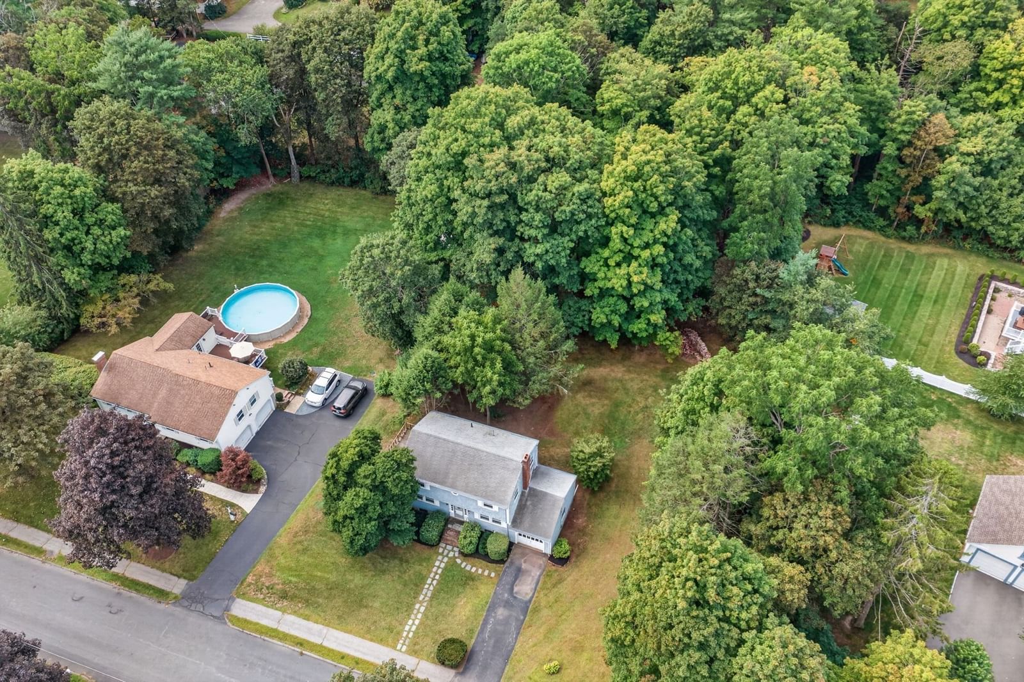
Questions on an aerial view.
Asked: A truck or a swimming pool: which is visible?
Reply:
swimming pool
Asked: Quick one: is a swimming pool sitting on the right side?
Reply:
No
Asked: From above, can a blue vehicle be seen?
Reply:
No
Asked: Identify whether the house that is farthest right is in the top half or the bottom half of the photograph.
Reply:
bottom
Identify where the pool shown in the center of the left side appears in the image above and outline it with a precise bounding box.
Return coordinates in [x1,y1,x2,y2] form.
[220,282,301,342]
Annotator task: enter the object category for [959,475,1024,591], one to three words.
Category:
house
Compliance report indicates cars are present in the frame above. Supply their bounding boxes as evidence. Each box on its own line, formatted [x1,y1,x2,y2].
[334,381,368,416]
[306,371,340,407]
